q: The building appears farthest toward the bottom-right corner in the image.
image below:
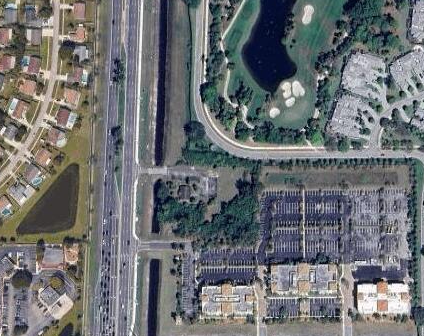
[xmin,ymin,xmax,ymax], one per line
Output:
[357,282,410,314]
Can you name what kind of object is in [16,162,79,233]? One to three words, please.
pond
